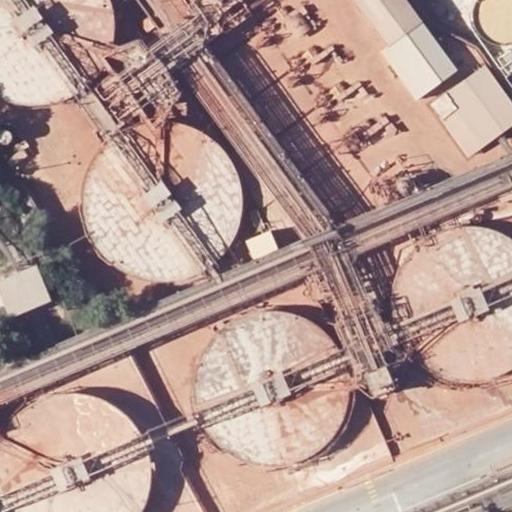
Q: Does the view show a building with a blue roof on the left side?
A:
No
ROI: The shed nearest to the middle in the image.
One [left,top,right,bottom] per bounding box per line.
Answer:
[246,231,278,260]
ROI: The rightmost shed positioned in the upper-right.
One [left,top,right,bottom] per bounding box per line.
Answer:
[430,66,512,158]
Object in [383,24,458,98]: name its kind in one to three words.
building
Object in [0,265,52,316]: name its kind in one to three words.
house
